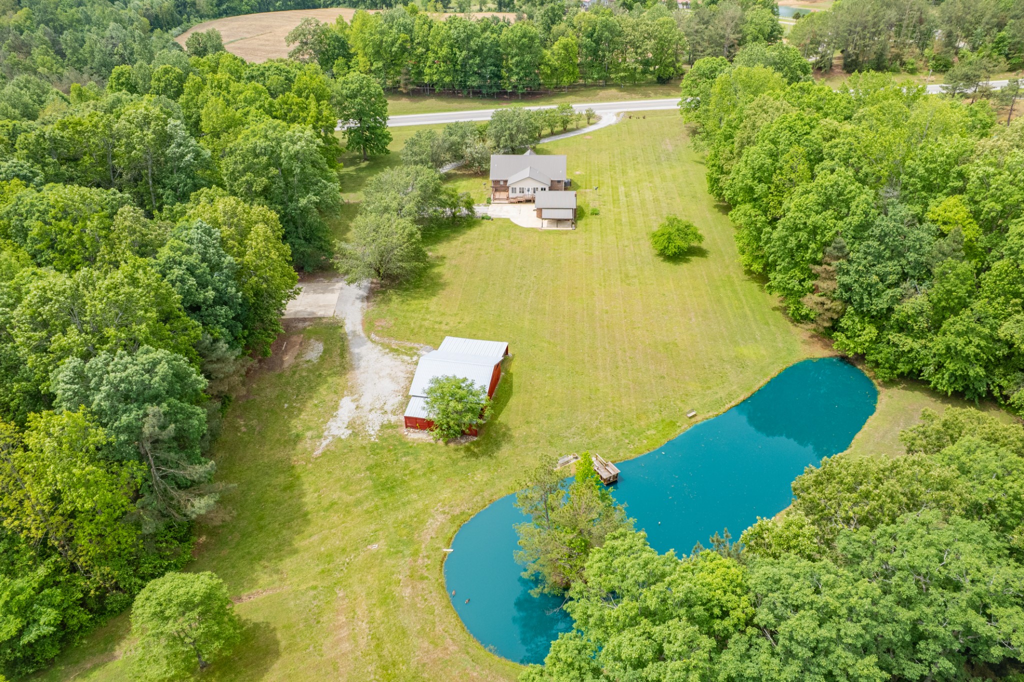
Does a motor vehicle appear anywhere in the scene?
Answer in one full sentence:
No, no motor vehicle is visible in the view.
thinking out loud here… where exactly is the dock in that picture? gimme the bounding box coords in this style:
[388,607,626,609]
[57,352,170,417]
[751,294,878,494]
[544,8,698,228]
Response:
[593,448,621,483]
